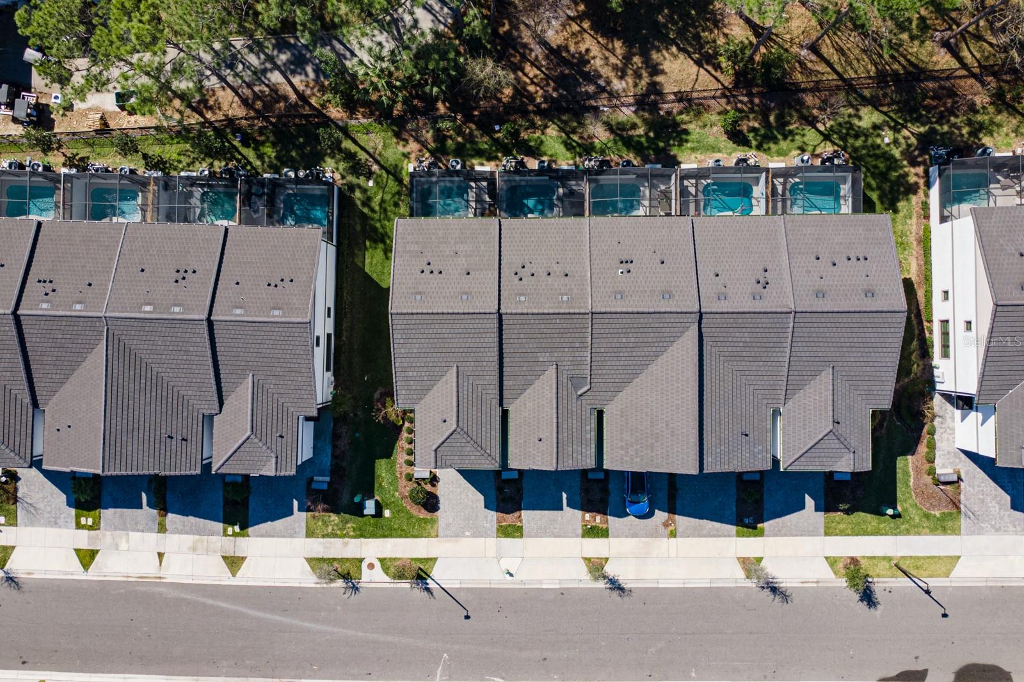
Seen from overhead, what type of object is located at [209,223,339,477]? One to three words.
house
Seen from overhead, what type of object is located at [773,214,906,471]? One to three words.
house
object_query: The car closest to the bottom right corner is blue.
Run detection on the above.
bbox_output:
[625,475,654,518]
